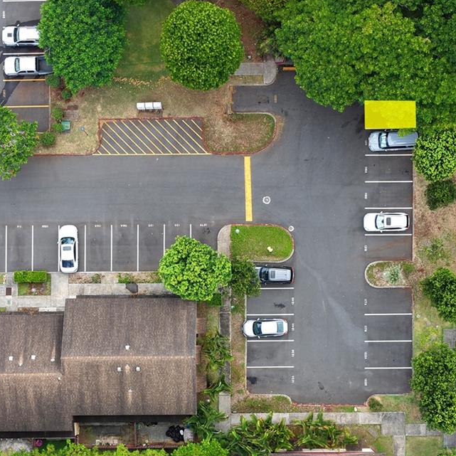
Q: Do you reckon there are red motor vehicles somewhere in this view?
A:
No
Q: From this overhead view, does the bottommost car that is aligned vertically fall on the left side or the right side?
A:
left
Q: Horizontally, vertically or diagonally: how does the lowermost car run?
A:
horizontally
